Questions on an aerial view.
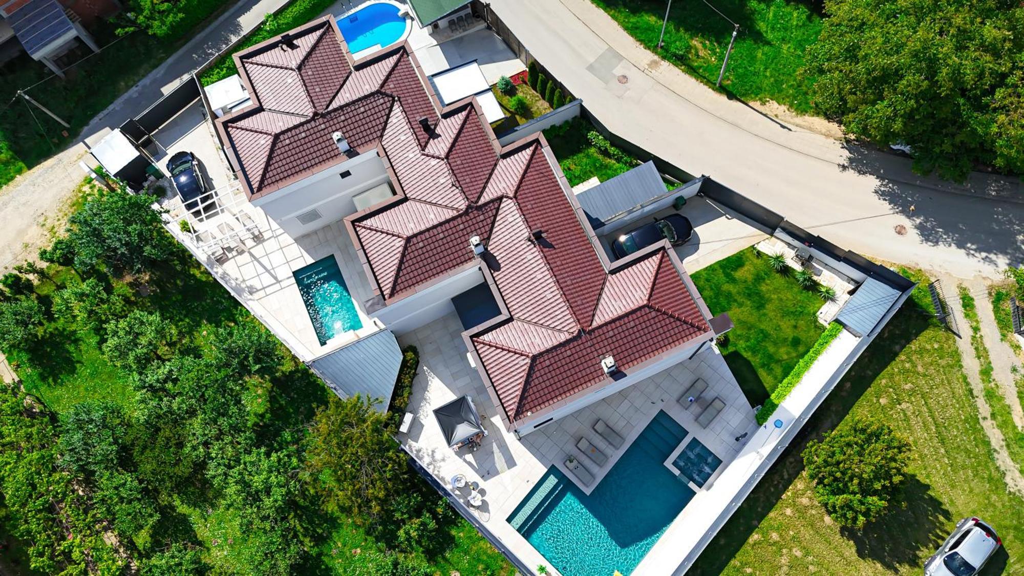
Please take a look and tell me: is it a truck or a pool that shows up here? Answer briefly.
pool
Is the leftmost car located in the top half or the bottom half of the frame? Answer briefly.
top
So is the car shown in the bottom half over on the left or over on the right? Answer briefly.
right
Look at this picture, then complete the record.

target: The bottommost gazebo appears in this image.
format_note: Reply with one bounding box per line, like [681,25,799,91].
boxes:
[433,394,491,447]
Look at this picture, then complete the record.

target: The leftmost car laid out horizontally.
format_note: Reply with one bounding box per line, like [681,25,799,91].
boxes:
[616,216,695,260]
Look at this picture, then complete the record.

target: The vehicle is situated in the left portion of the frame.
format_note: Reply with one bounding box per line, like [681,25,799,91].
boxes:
[165,148,211,214]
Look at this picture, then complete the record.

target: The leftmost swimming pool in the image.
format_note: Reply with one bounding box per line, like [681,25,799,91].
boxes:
[293,255,359,346]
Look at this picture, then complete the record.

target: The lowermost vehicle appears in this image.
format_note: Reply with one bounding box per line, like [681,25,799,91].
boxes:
[925,520,1005,576]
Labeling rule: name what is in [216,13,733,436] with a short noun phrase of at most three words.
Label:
house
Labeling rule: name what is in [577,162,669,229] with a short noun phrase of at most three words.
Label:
shed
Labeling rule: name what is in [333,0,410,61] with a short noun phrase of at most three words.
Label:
swimming pool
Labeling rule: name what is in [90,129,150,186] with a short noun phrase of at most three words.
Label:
shed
